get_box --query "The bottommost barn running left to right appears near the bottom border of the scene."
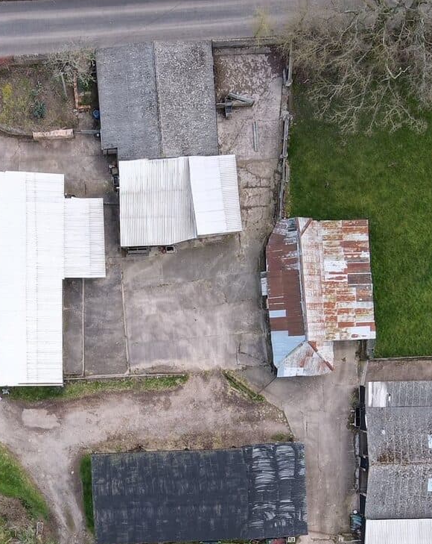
[91,443,309,544]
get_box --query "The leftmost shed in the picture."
[0,171,106,387]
